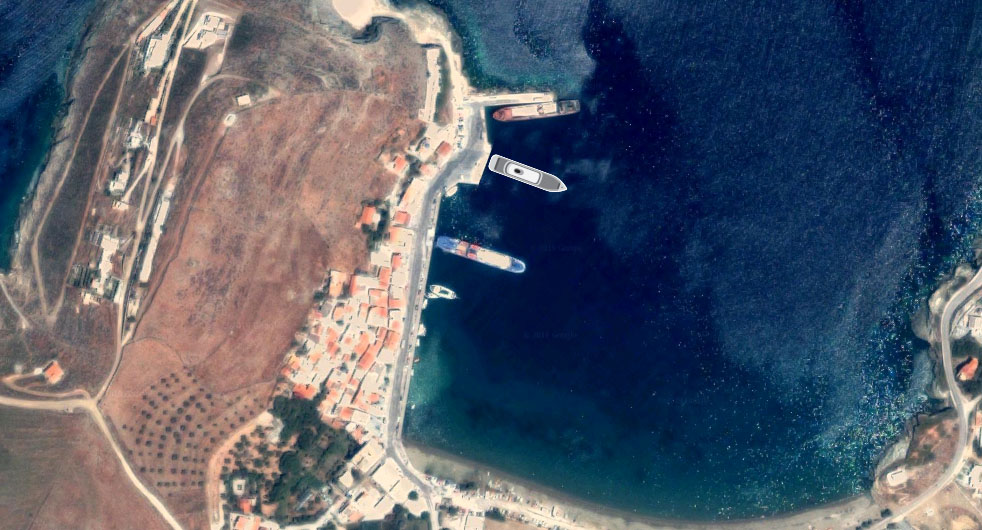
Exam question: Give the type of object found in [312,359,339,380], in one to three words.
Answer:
house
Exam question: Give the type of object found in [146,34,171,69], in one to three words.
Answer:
building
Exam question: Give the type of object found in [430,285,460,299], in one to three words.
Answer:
boat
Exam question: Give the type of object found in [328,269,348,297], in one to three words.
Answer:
house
